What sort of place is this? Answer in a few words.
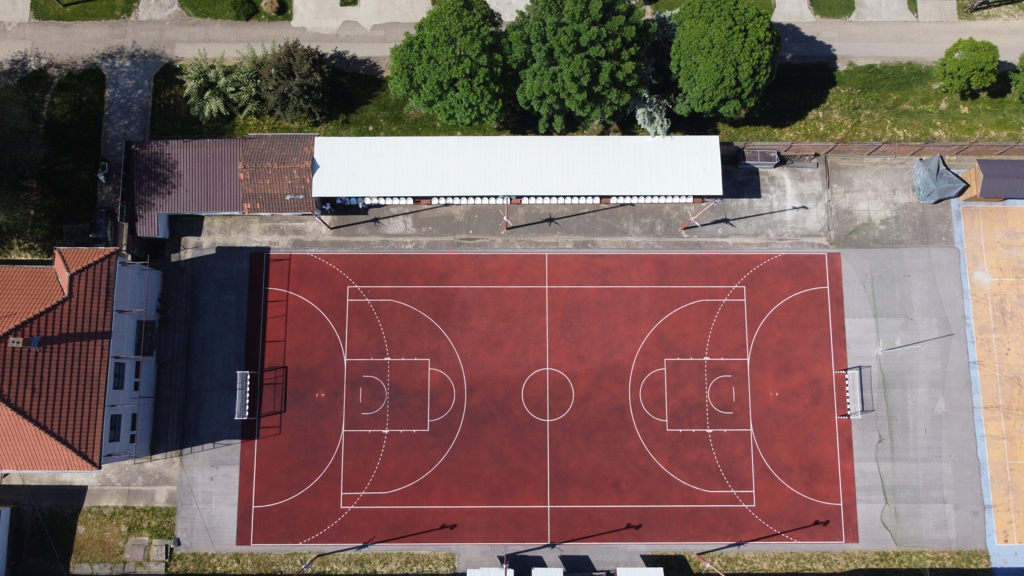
sports ground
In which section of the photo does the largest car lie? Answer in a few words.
left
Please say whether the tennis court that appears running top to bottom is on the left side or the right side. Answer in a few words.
right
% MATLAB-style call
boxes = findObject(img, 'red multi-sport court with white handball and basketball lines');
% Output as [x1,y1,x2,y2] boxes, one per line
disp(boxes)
[236,251,860,546]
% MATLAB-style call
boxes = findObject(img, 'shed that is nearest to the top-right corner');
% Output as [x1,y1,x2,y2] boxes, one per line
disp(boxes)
[959,159,1024,200]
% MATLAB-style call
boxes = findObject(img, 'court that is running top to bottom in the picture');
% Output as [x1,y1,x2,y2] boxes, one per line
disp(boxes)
[952,171,1024,576]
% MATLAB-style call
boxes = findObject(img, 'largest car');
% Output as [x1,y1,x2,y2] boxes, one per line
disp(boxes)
[90,216,120,247]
